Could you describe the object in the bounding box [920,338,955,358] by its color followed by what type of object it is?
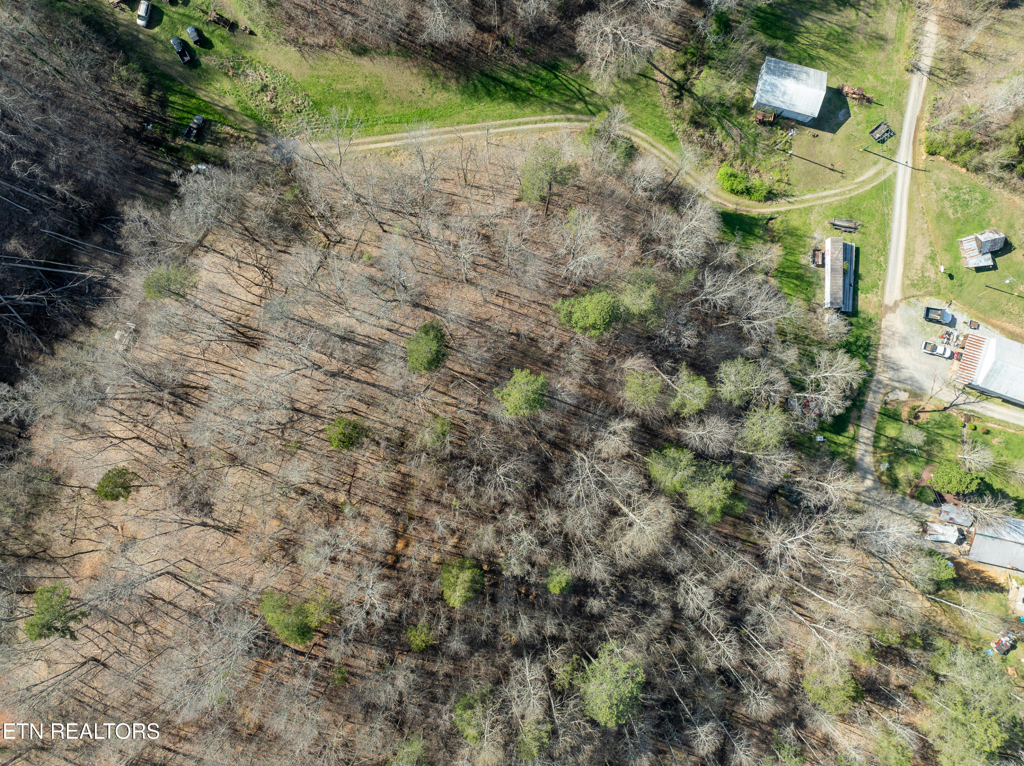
white vehicle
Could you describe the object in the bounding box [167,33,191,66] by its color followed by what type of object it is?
black truck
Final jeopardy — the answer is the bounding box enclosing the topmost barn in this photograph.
[752,57,828,122]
